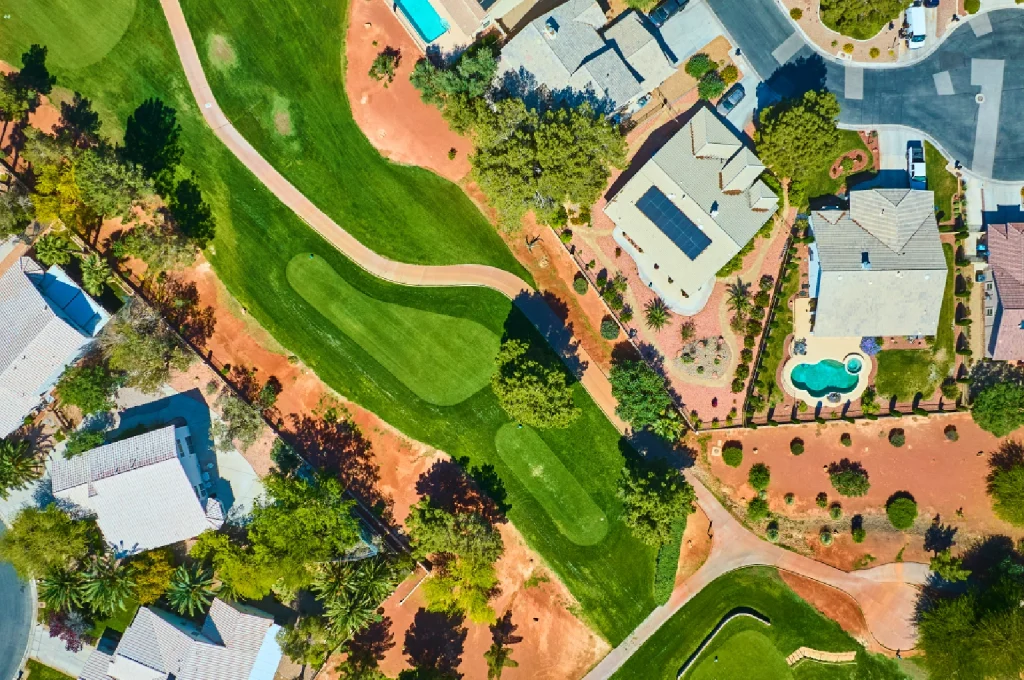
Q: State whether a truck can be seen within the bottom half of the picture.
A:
No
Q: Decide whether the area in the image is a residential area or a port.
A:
residential area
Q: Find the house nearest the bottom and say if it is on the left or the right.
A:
left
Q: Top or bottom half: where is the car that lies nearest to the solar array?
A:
top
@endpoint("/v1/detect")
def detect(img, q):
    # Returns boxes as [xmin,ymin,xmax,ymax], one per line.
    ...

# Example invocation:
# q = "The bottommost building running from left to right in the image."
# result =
[85,591,284,680]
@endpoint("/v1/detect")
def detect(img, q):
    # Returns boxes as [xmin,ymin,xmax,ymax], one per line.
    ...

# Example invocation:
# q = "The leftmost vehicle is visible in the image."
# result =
[649,0,689,24]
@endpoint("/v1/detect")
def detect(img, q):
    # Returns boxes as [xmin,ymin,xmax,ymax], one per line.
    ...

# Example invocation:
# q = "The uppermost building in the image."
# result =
[444,0,501,36]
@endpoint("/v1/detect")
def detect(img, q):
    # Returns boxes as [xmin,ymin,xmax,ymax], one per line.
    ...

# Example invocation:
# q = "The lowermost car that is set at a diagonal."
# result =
[714,82,748,113]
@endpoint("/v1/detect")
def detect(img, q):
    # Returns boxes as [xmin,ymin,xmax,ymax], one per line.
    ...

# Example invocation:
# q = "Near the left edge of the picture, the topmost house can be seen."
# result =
[0,257,122,455]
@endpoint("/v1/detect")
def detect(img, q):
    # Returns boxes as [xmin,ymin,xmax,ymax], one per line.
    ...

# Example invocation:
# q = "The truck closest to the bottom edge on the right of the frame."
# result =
[904,148,925,190]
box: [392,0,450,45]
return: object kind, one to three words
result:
swimming pool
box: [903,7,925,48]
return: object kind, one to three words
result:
vehicle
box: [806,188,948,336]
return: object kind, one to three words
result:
house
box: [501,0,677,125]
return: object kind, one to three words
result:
house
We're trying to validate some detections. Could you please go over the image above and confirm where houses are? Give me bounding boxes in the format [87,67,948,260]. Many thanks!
[501,0,677,125]
[806,188,948,336]
[444,0,501,36]
[51,424,228,556]
[85,591,284,680]
[603,106,780,290]
[977,221,1024,360]
[0,257,122,455]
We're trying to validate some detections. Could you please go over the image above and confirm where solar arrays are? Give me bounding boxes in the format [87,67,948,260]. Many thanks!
[636,186,711,260]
